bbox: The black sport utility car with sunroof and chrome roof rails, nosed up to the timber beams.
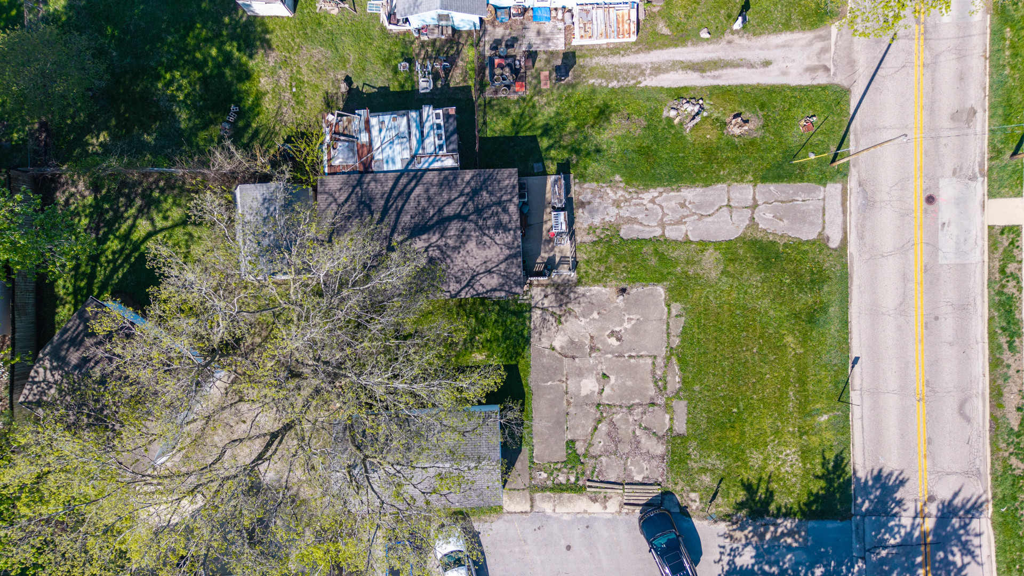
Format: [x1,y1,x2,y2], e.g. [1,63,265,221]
[643,506,696,576]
